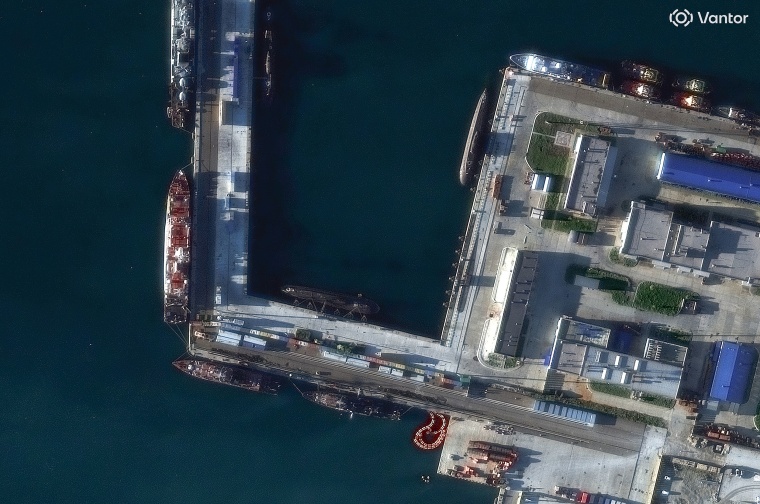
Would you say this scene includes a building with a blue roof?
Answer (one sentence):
Yes, you can see a building with a blue roof in this photo.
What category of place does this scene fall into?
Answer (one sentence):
What you see here is a port.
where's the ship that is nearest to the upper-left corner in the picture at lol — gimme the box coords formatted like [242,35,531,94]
[166,0,197,129]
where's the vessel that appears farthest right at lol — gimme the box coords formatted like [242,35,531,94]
[716,105,760,125]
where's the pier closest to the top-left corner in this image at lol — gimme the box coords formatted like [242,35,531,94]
[189,0,255,312]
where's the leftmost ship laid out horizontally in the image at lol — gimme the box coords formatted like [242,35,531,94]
[171,362,284,399]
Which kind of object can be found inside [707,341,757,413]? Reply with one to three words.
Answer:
building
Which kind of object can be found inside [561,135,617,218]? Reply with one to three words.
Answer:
building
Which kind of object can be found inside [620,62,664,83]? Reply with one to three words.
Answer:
boat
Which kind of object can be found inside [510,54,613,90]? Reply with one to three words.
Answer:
ship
